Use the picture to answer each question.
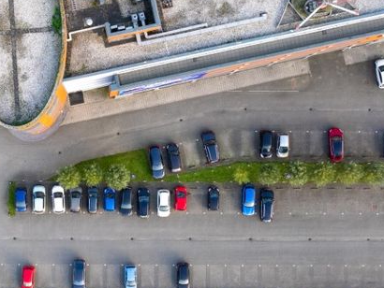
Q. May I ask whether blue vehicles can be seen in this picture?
Yes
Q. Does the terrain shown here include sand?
No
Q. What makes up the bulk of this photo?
paved ground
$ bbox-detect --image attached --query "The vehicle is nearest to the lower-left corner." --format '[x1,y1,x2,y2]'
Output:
[20,265,36,288]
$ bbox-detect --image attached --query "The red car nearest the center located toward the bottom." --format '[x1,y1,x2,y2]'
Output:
[173,185,188,211]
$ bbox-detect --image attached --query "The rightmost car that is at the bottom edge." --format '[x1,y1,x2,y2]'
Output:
[176,262,191,288]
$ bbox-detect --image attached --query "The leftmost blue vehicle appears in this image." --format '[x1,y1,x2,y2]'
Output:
[13,186,27,211]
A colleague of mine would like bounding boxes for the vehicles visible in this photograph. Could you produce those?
[275,133,291,158]
[326,127,343,161]
[136,187,150,218]
[201,130,218,164]
[176,262,191,288]
[70,258,87,288]
[20,265,36,288]
[13,186,27,211]
[206,186,222,211]
[123,264,138,288]
[240,184,257,216]
[102,186,117,211]
[120,187,134,216]
[148,146,165,177]
[258,187,275,222]
[69,186,83,211]
[156,188,171,218]
[165,142,181,174]
[31,184,46,214]
[372,58,384,90]
[50,185,66,212]
[259,130,275,159]
[173,185,188,211]
[86,186,99,214]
